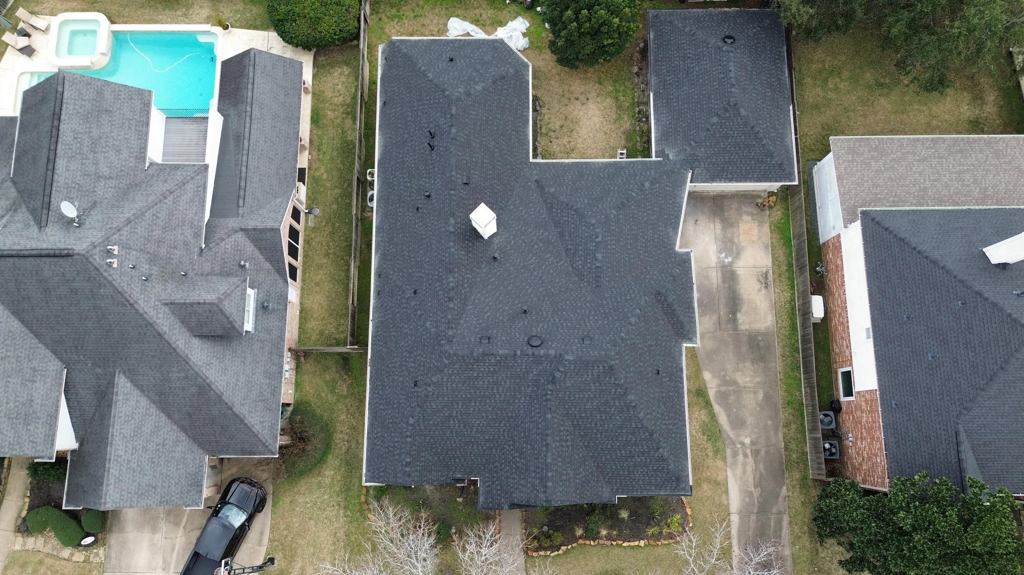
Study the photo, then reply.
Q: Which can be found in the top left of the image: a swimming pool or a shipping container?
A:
swimming pool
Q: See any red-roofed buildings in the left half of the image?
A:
No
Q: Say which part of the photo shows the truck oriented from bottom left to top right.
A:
bottom left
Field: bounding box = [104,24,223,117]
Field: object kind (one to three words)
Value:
swimming pool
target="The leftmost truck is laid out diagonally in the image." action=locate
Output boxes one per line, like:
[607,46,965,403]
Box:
[179,477,269,575]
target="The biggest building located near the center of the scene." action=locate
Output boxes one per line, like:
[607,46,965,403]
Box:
[361,8,799,510]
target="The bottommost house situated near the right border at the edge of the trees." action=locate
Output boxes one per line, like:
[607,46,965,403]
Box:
[812,134,1024,502]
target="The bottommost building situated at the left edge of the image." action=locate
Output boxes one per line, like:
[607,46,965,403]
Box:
[0,48,313,511]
